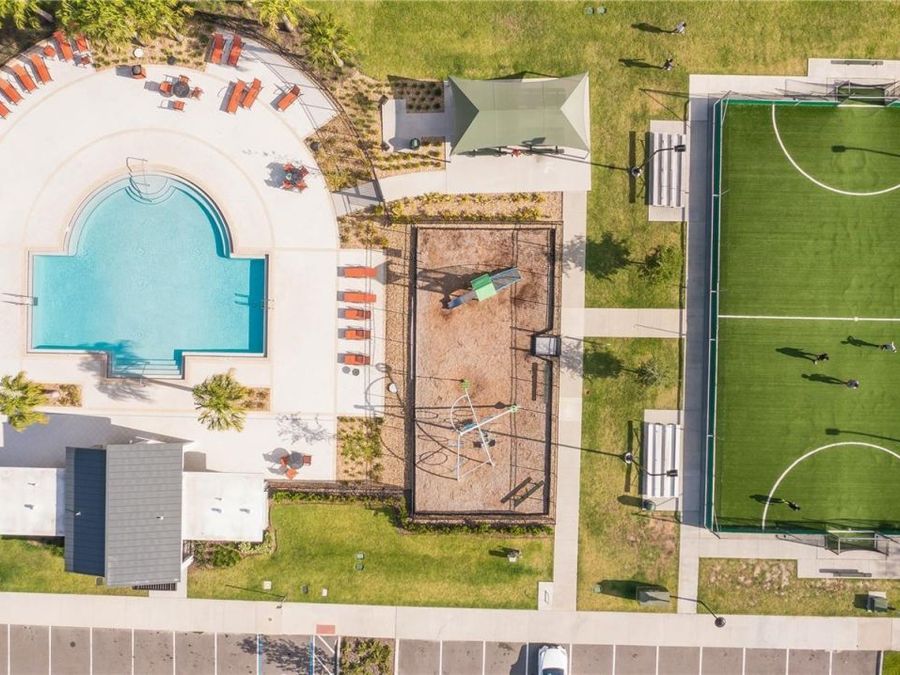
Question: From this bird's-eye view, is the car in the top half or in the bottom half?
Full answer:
Seen from above, the car lies in the bottom half of the view.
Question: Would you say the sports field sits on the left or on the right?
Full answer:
It is on the right.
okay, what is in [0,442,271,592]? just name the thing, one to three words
building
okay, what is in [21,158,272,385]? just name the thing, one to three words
swimming pool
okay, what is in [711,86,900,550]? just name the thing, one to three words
sports field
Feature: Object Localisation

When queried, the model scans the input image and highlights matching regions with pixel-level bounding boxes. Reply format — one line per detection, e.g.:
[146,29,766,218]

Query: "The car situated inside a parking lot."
[536,645,571,675]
